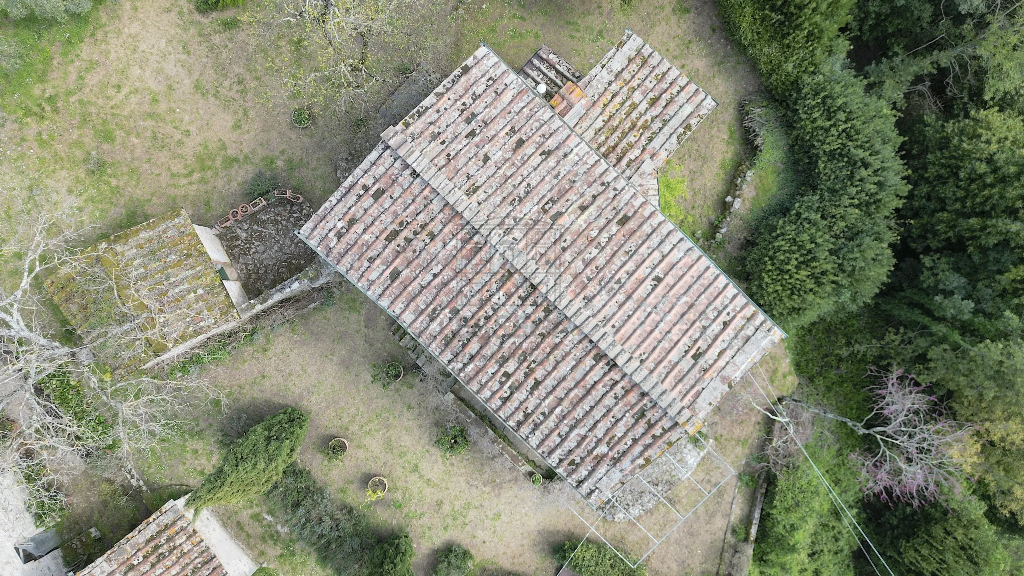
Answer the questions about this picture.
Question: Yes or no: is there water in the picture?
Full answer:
No, water can't be seen anywhere here.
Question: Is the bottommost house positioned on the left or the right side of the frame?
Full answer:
The bottommost house is on the left side of the image.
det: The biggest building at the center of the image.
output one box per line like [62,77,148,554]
[294,41,792,513]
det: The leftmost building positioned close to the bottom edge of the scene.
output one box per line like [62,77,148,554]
[63,492,272,576]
